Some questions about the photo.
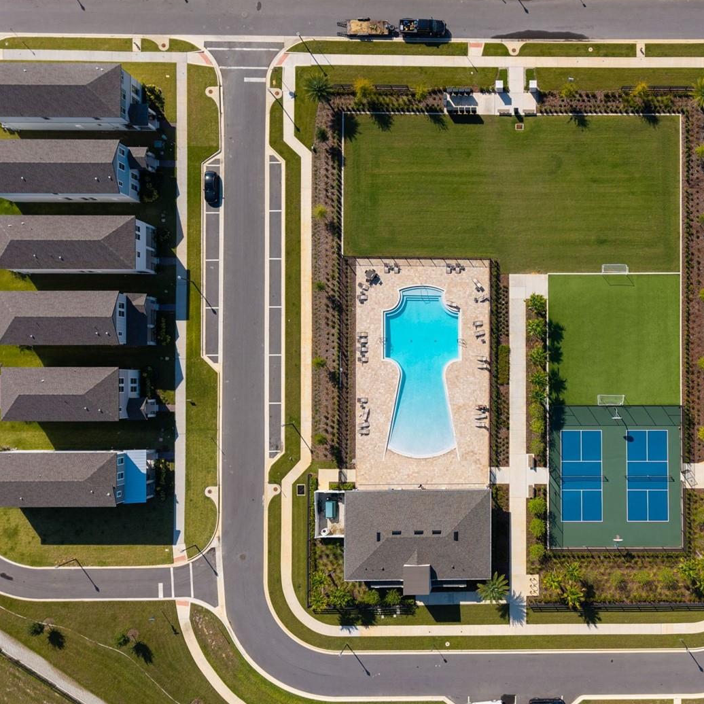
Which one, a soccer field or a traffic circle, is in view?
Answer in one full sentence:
The one in the frame is a soccer field.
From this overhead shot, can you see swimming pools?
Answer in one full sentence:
Yes, there is a swimming pool in the image.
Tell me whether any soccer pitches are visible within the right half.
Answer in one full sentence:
Yes, within the right half there is a soccer pitch.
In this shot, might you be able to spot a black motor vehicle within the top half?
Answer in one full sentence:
Yes, you'll find a black motor vehicle within the top half.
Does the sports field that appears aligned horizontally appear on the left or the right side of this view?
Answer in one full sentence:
The sports field that appears aligned horizontally is on the right side of the image.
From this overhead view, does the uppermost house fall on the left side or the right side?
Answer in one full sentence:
The uppermost house is on the left side of the image.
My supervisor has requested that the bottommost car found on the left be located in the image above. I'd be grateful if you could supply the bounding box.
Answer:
[203,171,220,204]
